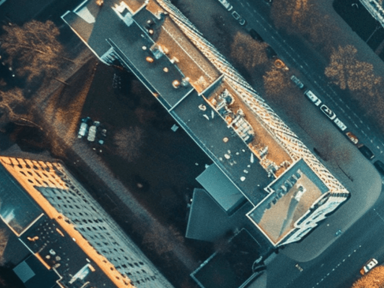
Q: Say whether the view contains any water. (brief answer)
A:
No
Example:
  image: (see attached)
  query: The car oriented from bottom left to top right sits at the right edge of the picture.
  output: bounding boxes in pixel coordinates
[360,261,375,275]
